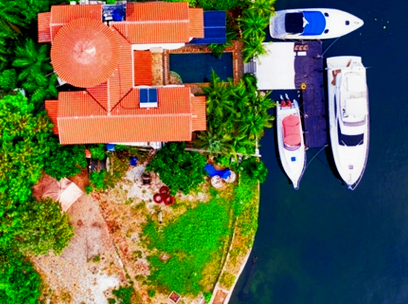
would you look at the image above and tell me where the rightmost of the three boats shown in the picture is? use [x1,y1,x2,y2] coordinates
[324,50,373,190]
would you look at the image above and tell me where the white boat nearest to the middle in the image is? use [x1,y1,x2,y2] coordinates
[277,90,306,193]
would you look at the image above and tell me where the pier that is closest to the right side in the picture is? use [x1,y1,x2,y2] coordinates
[264,40,328,147]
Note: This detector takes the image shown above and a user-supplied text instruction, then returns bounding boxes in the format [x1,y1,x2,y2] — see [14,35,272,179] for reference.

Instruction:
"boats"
[267,7,366,39]
[277,90,306,193]
[324,50,373,190]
